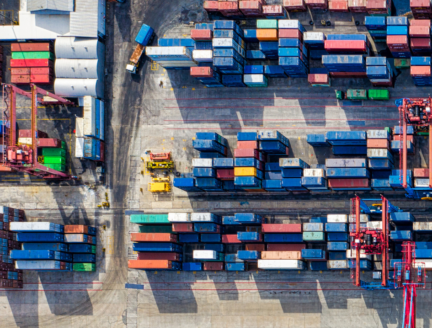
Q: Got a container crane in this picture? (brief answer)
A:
Yes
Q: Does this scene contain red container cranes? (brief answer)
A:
Yes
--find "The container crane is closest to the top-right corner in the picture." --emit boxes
[398,99,432,200]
